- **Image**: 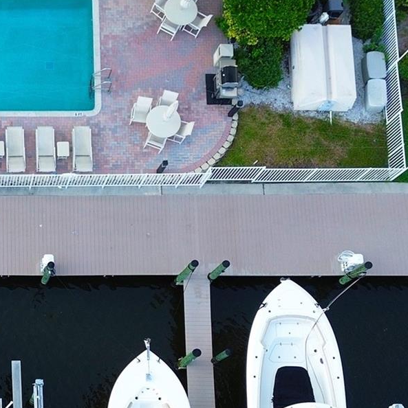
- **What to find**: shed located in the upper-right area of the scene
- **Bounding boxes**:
[290,21,361,110]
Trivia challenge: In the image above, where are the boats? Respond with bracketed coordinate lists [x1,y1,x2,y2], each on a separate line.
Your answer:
[106,335,189,408]
[239,274,343,408]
